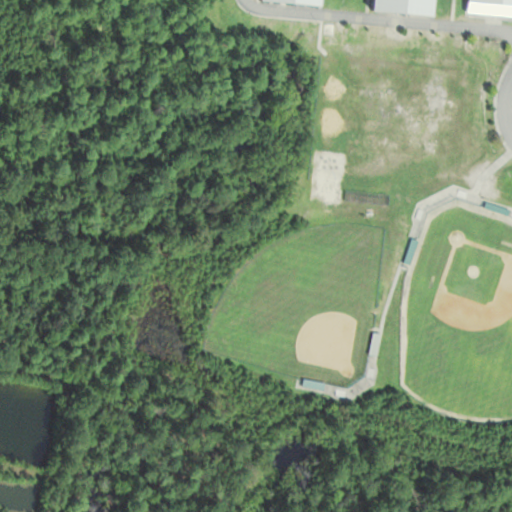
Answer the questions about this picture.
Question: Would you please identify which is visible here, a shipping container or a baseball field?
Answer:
baseball field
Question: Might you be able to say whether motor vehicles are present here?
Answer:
No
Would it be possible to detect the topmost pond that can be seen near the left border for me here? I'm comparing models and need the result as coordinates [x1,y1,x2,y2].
[0,384,52,468]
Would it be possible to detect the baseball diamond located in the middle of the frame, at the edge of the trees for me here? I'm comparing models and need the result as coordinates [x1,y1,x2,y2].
[204,222,384,388]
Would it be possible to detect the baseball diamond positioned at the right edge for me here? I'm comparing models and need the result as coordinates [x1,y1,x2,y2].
[400,200,512,423]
